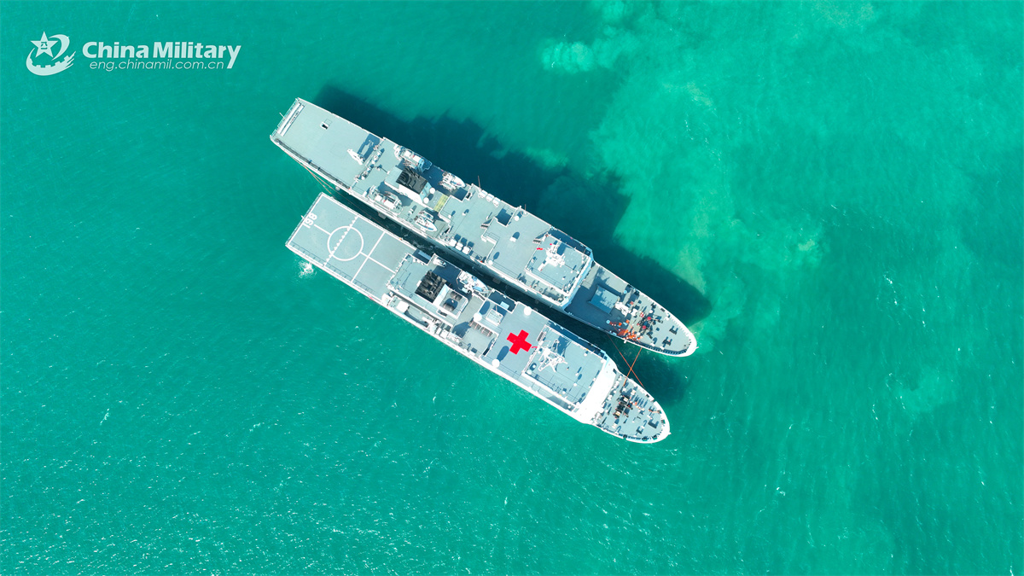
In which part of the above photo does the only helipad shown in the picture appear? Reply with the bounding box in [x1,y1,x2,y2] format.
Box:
[287,195,413,301]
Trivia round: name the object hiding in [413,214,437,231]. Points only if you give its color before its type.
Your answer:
white boat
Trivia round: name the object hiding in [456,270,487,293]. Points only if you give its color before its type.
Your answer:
white boat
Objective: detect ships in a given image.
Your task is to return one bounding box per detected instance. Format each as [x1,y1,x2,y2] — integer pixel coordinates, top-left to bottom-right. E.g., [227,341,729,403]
[282,193,671,444]
[269,99,698,357]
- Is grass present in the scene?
No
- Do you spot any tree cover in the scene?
No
